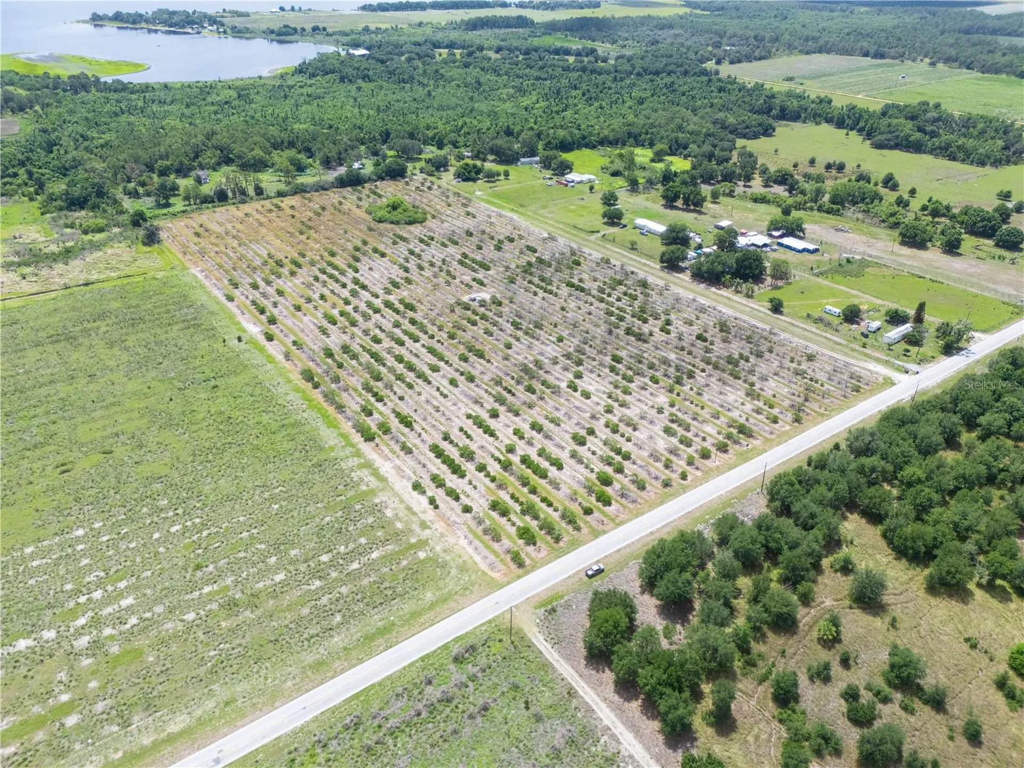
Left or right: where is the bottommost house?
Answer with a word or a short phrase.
right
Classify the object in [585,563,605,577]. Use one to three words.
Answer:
vehicle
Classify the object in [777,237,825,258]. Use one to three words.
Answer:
house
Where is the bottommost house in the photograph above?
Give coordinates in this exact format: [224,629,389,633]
[883,320,917,344]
